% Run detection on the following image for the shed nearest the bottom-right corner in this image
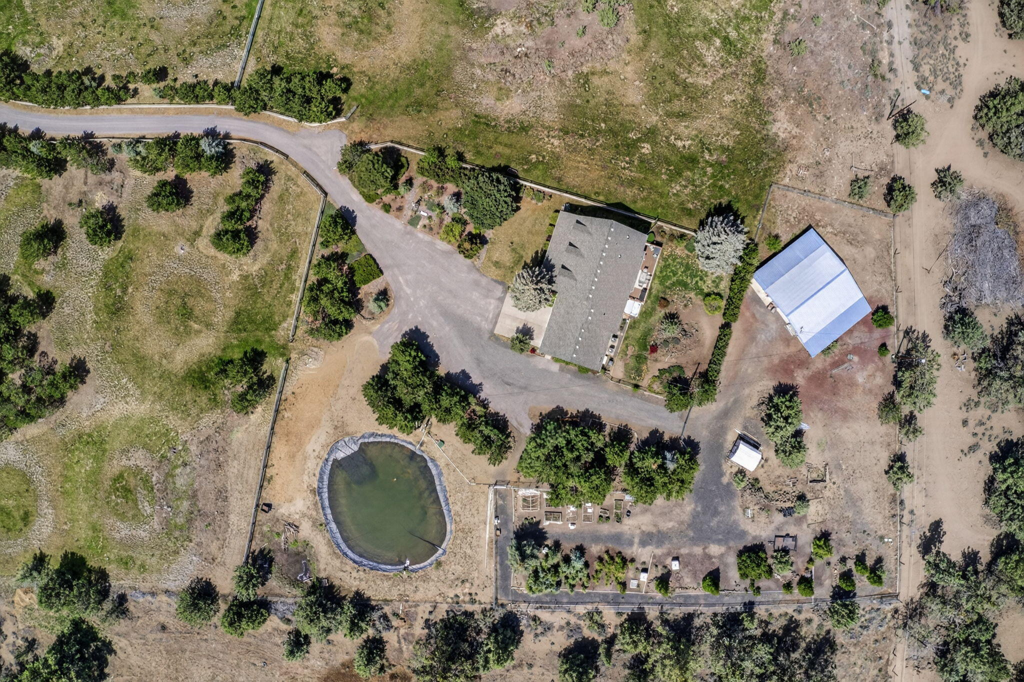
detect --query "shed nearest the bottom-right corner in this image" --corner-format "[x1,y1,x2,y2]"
[724,435,761,469]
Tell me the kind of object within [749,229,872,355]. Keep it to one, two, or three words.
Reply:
barn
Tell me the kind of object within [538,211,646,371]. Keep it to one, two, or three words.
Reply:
house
